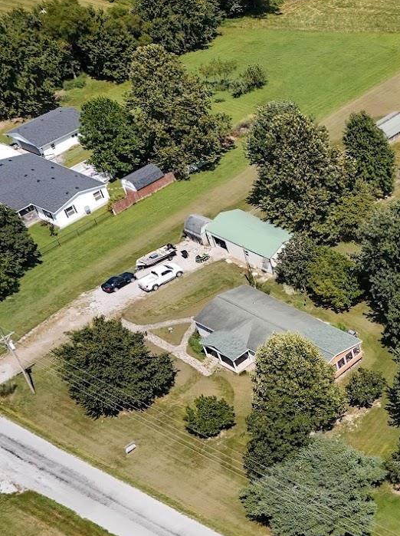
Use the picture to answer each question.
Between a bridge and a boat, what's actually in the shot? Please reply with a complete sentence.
I can see a boat in this picture.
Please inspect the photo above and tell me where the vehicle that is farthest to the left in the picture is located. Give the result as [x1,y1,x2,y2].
[96,269,138,294]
